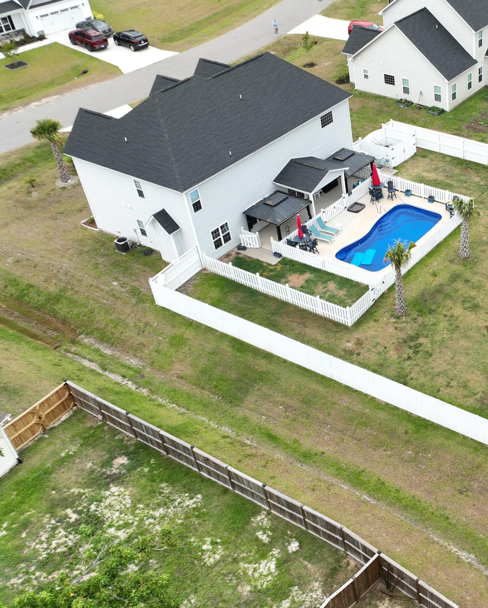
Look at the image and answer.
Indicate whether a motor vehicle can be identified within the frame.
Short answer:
Yes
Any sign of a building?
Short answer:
Yes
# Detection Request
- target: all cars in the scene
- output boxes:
[345,18,382,33]
[68,27,106,50]
[112,28,149,50]
[74,14,107,31]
